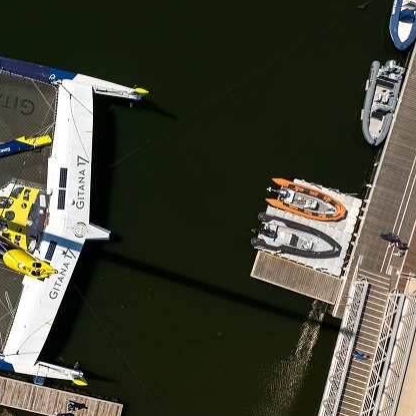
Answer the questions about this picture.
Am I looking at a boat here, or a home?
boat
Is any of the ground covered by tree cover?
No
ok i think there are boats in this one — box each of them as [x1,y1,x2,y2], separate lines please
[261,178,351,222]
[359,66,406,149]
[0,57,148,384]
[389,0,416,53]
[246,213,345,258]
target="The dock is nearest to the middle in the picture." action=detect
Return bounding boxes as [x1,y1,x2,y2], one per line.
[249,250,342,305]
